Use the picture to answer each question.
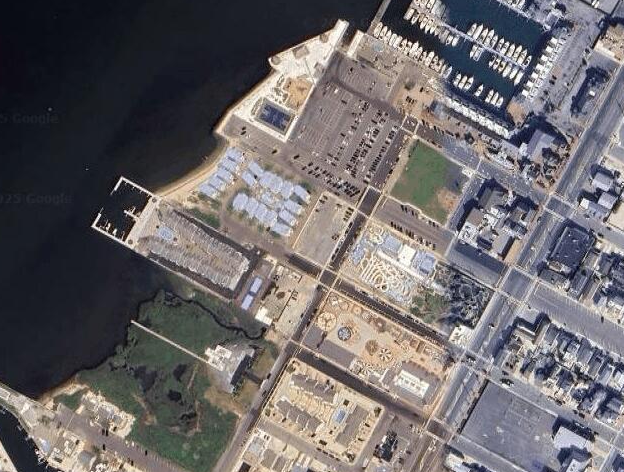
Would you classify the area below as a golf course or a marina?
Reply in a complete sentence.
What you see here is a marina.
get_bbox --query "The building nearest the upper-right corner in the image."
[603,22,624,55]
